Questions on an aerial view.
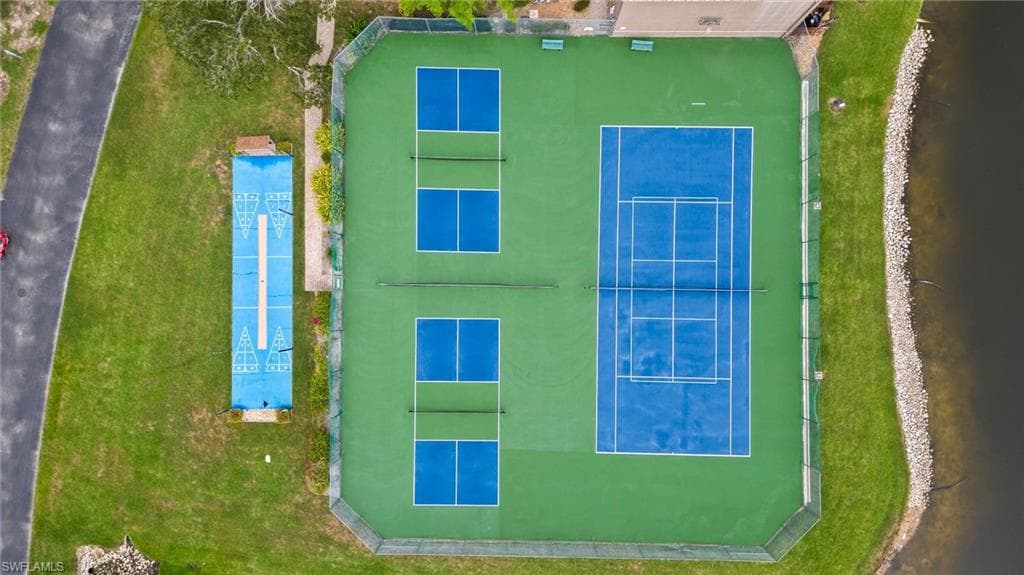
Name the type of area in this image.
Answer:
sports ground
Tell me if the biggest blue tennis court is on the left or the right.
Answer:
right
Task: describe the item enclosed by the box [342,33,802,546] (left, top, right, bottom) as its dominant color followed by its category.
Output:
green sports court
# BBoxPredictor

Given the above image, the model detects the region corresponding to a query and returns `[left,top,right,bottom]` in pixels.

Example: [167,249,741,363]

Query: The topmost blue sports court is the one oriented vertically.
[416,67,501,253]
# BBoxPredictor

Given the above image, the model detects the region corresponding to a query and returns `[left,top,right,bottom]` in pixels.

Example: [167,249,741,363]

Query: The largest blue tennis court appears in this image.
[596,125,753,457]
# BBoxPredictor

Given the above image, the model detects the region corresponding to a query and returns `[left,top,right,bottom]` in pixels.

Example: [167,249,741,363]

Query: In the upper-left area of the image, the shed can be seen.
[235,137,276,155]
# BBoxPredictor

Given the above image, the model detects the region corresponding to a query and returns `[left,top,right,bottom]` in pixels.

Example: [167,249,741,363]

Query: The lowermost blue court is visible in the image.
[413,318,500,506]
